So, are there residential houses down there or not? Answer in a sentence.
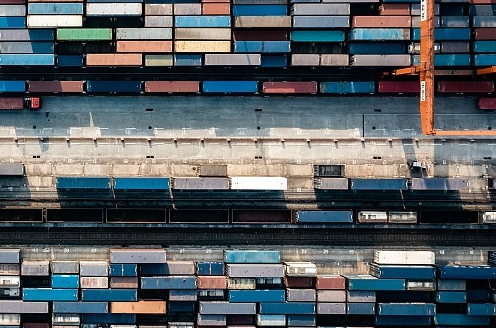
No, the scene contains no residential house.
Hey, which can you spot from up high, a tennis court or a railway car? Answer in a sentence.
The image shows a railway car.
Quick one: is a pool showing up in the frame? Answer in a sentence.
No, I can see no pool in this picture.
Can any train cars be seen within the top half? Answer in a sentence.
No, there's no train car to be seen within the top half.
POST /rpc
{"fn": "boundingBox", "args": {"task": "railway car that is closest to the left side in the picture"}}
[0,205,45,221]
